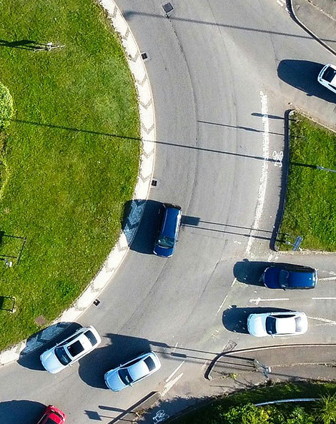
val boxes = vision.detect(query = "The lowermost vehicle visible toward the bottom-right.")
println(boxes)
[247,310,307,337]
